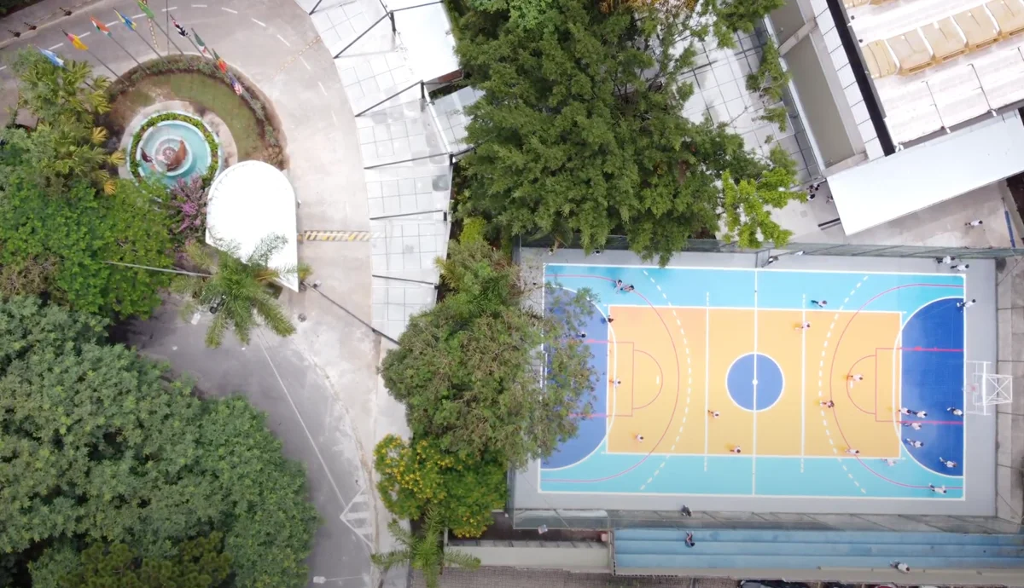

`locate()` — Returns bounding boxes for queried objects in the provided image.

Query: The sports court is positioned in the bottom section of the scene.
[516,248,998,517]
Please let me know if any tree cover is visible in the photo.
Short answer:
Yes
